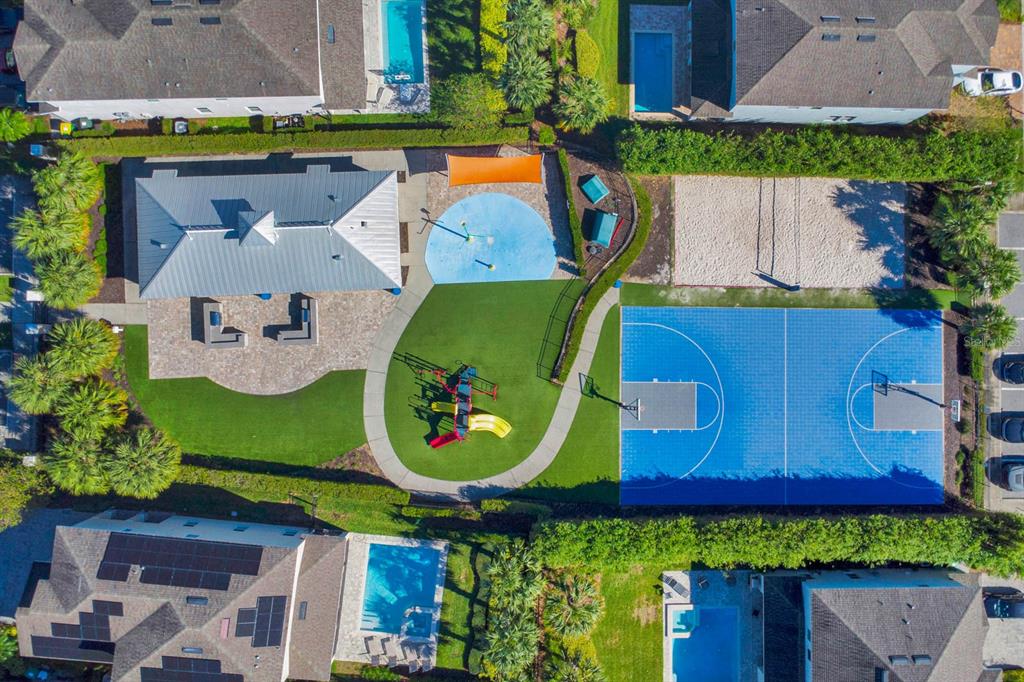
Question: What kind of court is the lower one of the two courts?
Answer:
basketball court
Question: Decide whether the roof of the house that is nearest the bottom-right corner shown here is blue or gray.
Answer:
gray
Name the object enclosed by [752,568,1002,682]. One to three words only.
house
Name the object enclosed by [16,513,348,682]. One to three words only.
house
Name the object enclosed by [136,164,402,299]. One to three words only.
building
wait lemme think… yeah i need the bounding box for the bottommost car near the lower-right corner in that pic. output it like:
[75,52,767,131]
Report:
[985,589,1024,620]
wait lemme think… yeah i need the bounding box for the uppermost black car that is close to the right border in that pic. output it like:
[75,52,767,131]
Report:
[1004,360,1024,384]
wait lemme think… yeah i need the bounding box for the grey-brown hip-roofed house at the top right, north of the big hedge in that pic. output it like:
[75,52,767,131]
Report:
[682,0,1000,129]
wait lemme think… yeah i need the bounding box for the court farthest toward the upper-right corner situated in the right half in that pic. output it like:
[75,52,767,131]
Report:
[674,175,908,289]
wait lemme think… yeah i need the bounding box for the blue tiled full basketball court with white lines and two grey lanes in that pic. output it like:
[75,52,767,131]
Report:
[619,305,945,505]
